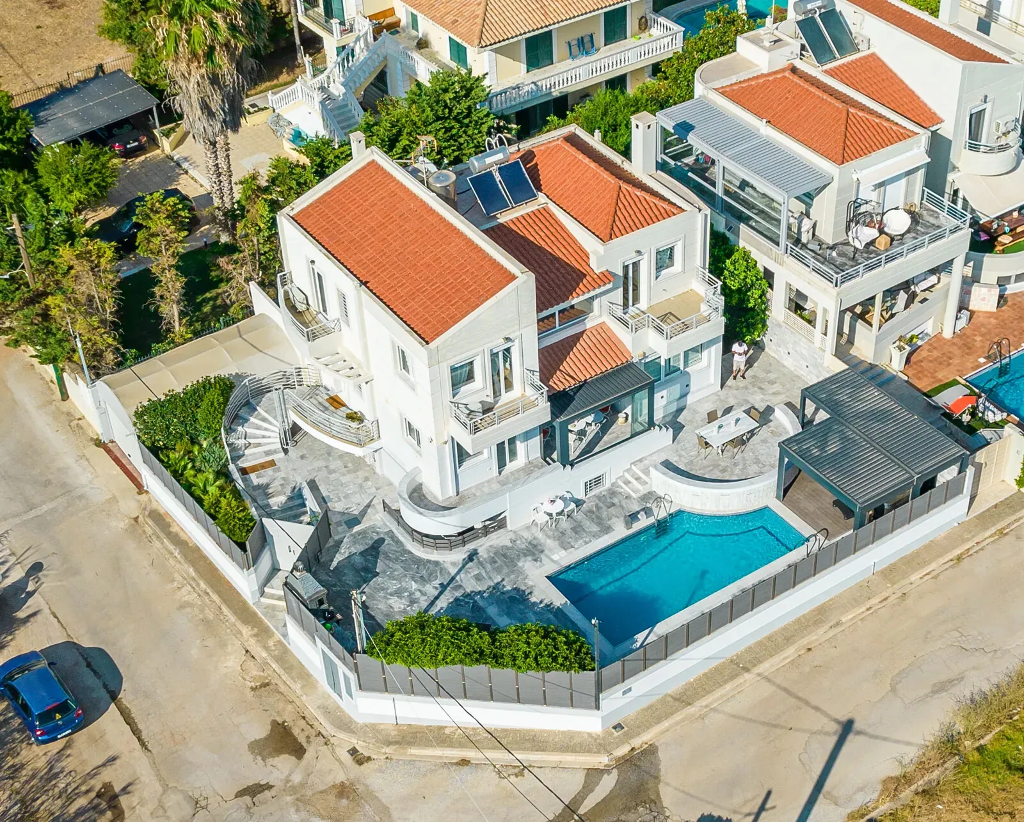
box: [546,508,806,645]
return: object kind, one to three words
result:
swimming pool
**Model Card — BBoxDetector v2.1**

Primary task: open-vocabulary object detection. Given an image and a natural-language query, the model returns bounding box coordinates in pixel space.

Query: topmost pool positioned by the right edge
[961,343,1024,418]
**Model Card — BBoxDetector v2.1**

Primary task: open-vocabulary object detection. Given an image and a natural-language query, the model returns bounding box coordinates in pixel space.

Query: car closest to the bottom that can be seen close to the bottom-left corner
[0,646,84,747]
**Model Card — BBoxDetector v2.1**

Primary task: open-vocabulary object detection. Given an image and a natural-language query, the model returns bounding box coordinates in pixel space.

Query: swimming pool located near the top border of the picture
[660,0,719,42]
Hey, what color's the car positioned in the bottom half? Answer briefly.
blue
